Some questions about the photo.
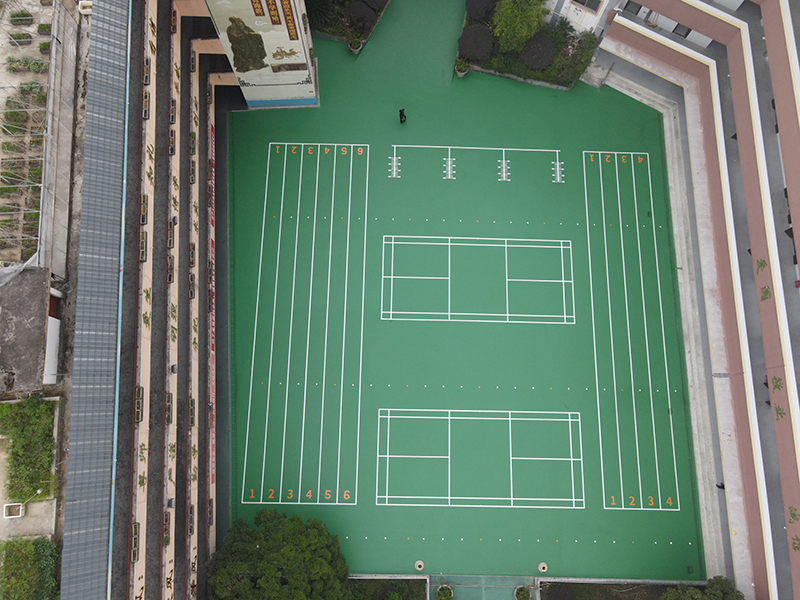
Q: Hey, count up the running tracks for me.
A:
2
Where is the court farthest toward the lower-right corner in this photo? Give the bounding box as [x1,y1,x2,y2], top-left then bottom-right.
[377,409,584,509]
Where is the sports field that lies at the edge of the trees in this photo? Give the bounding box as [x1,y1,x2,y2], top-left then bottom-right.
[227,0,707,580]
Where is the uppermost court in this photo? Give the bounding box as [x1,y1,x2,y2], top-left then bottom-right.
[381,236,575,323]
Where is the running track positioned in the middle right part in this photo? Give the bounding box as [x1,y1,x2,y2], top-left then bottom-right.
[583,152,680,510]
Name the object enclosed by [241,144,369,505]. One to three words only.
running track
